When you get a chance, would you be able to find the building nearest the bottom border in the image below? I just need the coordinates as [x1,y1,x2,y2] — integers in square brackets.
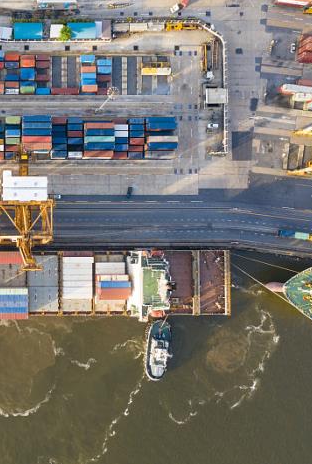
[201,87,229,105]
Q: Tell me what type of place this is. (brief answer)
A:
port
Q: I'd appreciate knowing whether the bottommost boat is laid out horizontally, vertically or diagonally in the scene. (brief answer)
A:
vertically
